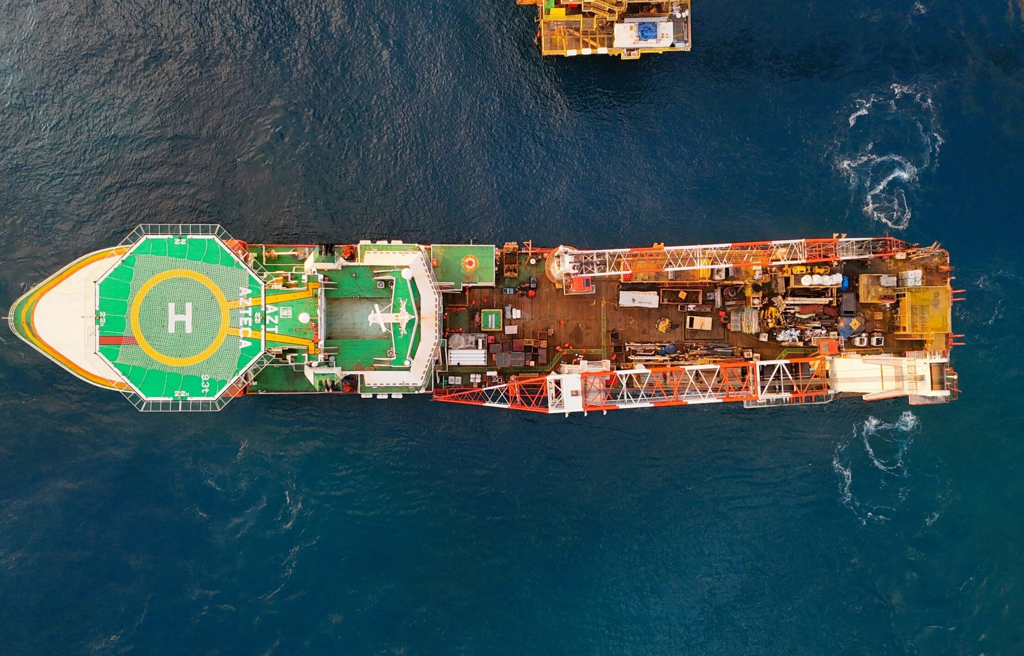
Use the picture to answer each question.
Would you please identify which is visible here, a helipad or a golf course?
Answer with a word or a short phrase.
helipad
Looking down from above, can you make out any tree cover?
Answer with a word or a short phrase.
No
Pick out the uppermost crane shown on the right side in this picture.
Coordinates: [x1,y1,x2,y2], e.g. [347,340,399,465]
[545,231,920,295]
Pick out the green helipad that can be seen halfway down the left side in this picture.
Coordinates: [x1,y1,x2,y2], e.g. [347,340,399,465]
[81,224,275,412]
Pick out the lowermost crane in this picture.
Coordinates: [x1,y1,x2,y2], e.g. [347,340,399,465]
[431,336,963,416]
